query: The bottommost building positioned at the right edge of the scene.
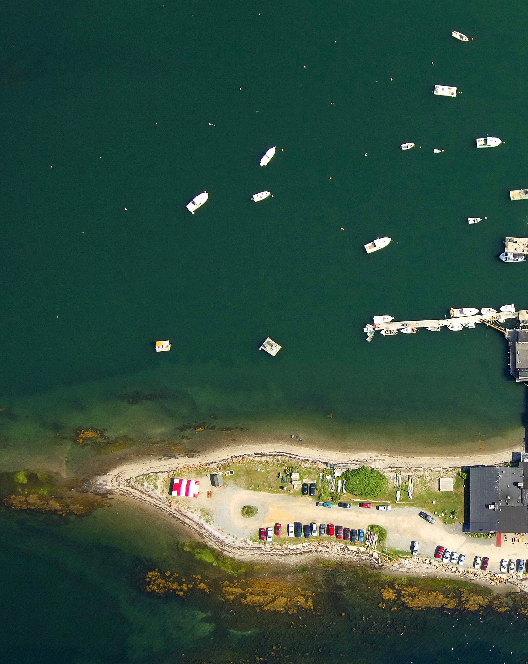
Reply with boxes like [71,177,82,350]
[462,462,528,547]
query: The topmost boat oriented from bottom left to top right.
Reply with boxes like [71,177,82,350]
[259,148,275,167]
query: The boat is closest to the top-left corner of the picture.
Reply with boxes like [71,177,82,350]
[185,194,208,212]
